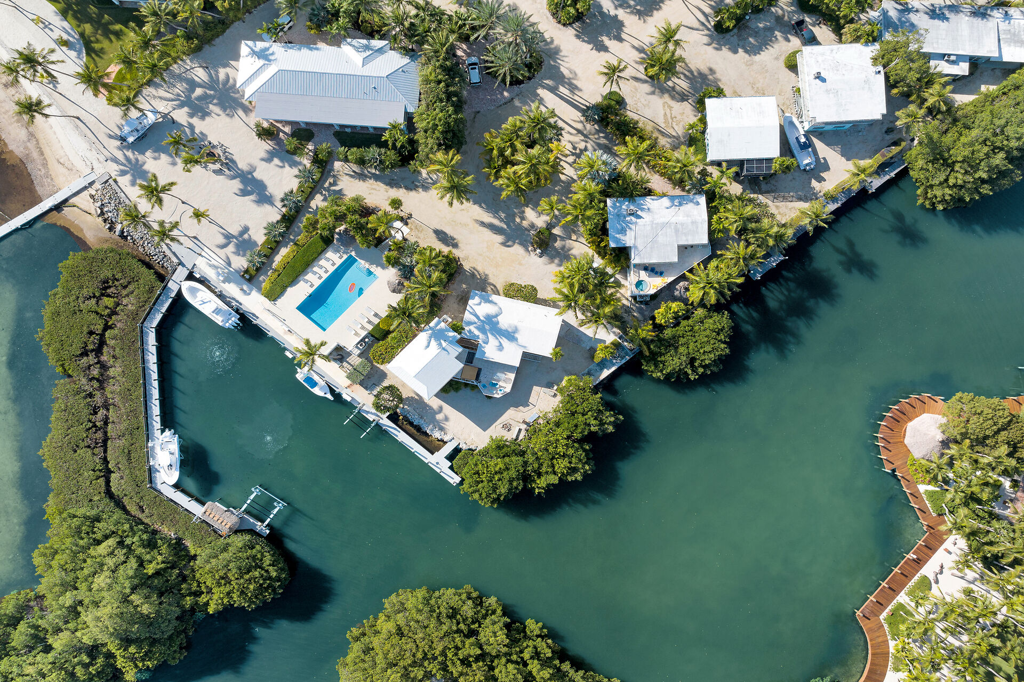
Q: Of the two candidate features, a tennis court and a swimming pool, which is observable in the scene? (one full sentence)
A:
Looking from above, you can make out a swimming pool.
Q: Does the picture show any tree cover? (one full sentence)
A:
Yes, there is tree cover in the image.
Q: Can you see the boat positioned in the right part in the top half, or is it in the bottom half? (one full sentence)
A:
The top half of the photo is where the boat positioned in the right part is.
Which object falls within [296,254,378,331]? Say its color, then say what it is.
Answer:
blue swimming pool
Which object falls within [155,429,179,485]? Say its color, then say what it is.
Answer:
white boat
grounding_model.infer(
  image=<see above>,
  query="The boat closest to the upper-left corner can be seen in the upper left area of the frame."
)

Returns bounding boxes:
[120,113,155,145]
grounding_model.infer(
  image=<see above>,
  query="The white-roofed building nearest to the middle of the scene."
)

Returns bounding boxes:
[456,290,562,398]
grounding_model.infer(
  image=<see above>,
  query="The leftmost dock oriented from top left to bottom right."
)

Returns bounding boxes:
[189,261,461,485]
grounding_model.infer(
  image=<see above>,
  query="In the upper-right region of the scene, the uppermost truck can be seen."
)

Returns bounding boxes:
[794,15,820,45]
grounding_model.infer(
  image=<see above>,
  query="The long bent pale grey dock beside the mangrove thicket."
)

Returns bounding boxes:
[140,263,271,536]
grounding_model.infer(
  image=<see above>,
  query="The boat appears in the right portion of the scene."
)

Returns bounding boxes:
[786,115,816,175]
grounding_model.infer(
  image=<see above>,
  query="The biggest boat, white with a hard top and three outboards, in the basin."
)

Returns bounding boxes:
[182,284,245,332]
